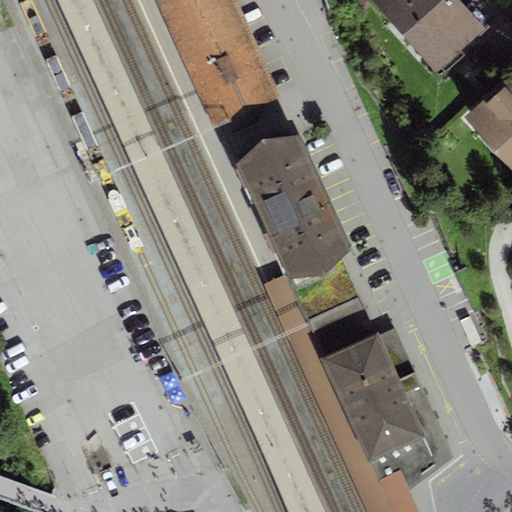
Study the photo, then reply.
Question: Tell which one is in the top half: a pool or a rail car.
rail car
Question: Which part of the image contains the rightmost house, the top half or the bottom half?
top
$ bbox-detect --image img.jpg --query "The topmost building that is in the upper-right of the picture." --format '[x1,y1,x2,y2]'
[374,0,488,78]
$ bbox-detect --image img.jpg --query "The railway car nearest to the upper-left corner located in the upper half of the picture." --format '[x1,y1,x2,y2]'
[16,0,52,51]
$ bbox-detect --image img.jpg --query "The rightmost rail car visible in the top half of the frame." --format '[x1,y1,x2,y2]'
[71,110,102,160]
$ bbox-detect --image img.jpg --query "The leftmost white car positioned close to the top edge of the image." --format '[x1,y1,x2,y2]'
[243,8,264,22]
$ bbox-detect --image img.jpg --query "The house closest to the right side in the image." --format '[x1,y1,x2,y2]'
[465,74,512,168]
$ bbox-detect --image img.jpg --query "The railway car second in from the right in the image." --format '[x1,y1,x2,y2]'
[44,54,76,105]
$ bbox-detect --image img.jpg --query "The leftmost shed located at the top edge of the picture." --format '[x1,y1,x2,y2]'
[155,0,280,130]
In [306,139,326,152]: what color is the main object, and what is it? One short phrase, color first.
white vehicle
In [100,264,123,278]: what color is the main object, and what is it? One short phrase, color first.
blue car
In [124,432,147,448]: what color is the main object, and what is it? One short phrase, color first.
white car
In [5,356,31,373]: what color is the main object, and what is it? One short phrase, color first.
white car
